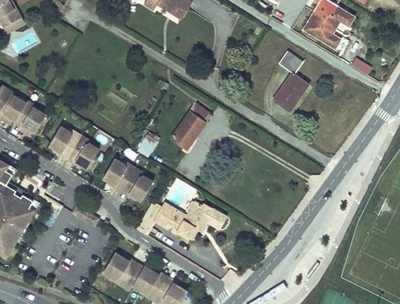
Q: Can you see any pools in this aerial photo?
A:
Yes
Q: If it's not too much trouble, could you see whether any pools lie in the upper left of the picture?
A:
Yes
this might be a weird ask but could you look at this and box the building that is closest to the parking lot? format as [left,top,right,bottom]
[102,253,130,283]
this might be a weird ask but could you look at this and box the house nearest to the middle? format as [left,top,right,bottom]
[172,102,212,153]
